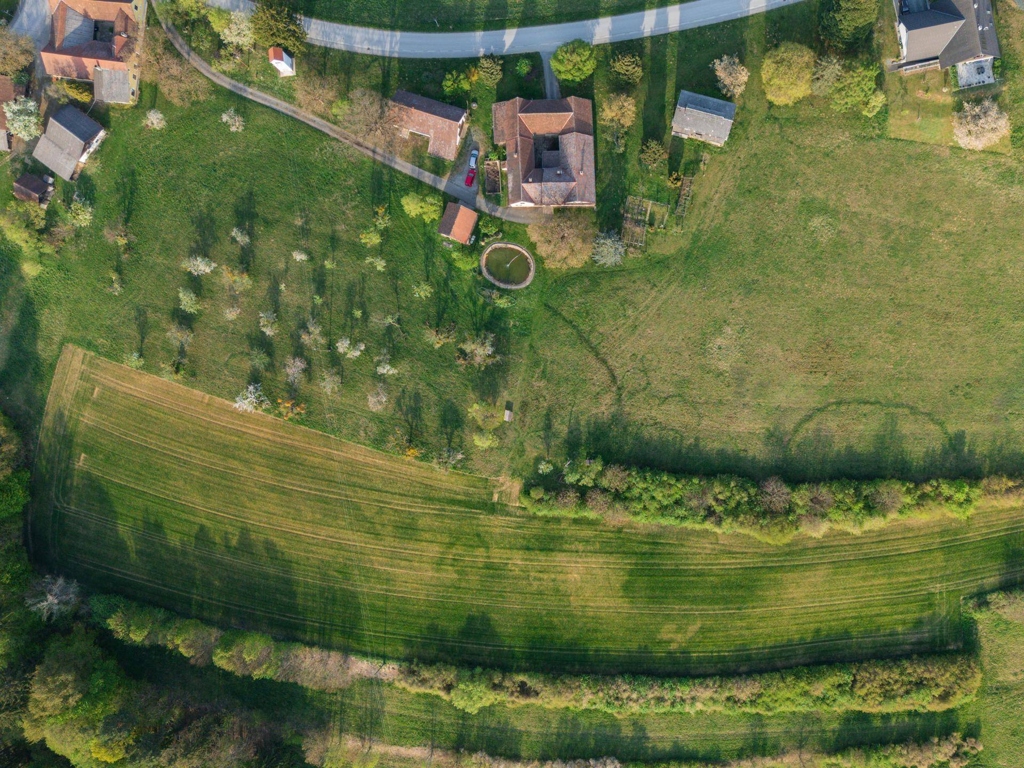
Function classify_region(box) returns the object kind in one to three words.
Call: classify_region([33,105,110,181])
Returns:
barn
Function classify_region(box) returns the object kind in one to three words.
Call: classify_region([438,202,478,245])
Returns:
building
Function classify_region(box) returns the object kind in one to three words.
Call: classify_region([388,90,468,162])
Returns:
barn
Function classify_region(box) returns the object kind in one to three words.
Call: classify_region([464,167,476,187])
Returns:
vehicle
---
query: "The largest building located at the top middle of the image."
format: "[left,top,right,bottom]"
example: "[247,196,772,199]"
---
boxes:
[492,96,595,208]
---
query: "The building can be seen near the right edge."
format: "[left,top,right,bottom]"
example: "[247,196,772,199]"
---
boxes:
[887,0,1000,72]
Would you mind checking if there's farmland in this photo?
Yes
